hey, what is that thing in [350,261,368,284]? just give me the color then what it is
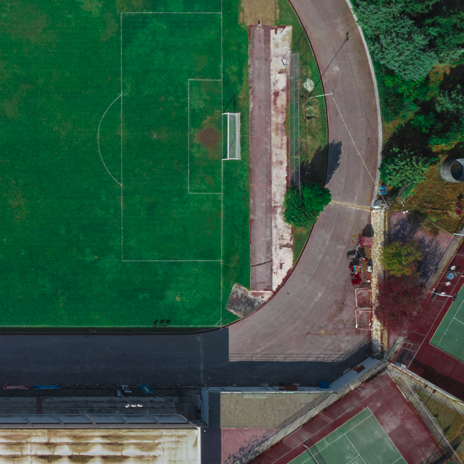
red work vehicle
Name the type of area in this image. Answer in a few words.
sports ground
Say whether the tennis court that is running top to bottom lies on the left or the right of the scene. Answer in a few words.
right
